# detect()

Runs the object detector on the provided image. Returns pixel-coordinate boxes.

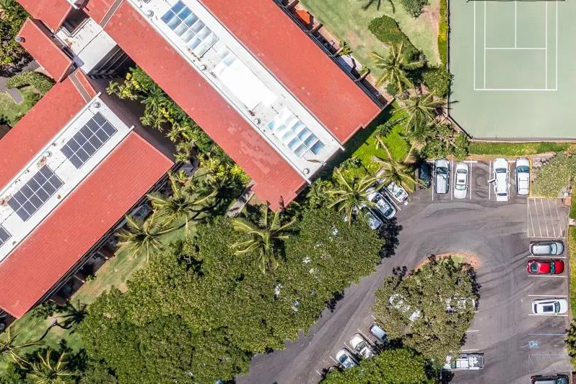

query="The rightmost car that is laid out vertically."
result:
[513,157,532,196]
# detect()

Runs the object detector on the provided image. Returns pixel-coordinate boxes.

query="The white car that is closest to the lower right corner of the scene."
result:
[531,298,566,317]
